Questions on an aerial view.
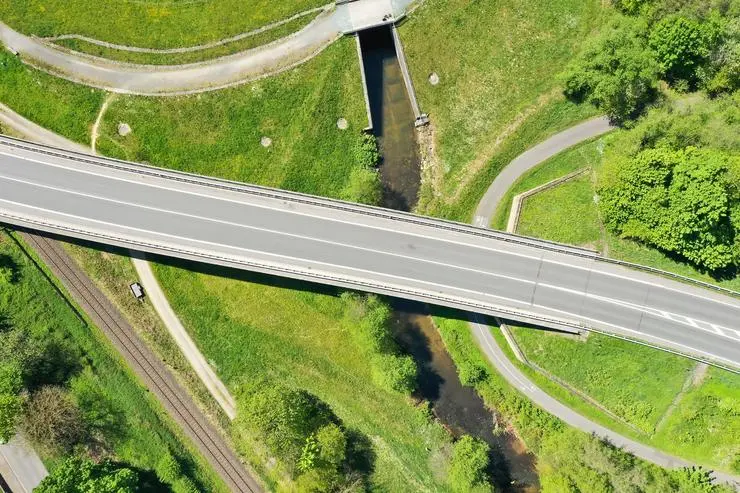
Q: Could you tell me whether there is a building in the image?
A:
No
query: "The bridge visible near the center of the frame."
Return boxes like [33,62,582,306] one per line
[0,136,603,335]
